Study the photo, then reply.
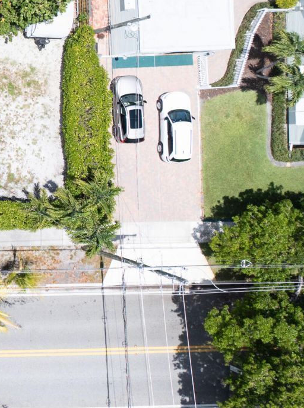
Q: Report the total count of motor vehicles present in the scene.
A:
2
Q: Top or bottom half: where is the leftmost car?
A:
top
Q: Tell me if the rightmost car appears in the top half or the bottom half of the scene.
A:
top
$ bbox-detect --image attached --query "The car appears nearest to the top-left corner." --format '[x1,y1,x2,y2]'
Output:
[109,74,146,143]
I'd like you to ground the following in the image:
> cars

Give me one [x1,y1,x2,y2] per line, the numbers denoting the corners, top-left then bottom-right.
[109,74,146,143]
[155,92,194,161]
